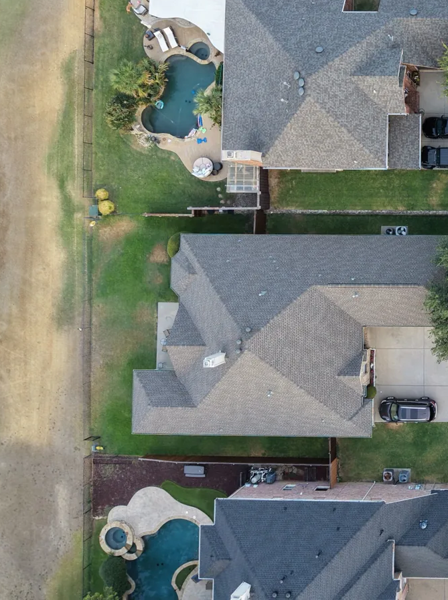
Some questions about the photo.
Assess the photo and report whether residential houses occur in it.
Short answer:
Yes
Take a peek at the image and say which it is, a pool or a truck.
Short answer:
pool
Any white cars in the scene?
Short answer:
No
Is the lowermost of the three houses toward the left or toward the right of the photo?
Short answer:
right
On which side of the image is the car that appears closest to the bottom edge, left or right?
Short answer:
right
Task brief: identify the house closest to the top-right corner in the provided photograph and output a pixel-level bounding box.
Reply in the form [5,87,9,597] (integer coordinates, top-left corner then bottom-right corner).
[222,0,448,170]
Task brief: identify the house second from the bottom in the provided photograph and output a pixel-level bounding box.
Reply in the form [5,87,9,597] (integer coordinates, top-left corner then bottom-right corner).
[131,233,448,438]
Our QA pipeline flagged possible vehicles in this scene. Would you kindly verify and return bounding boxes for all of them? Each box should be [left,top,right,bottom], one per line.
[423,114,448,141]
[379,395,438,424]
[422,144,448,170]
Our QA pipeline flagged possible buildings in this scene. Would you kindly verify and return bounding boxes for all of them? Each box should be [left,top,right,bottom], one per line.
[222,0,448,170]
[131,233,448,438]
[198,481,448,600]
